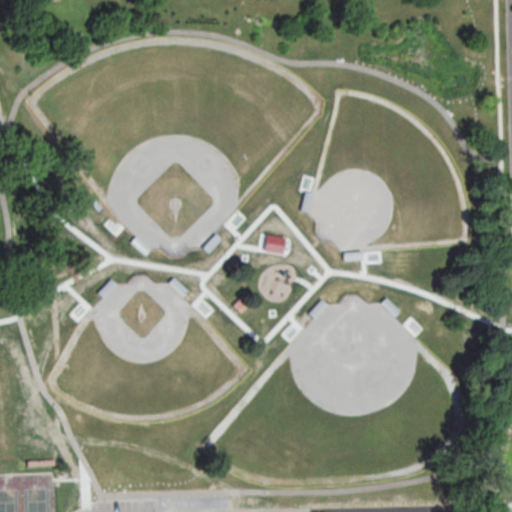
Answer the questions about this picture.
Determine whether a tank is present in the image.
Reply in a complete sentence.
No, there is no tank in the image.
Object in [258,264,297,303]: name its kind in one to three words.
playground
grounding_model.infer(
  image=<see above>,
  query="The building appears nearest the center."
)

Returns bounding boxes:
[264,235,285,253]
